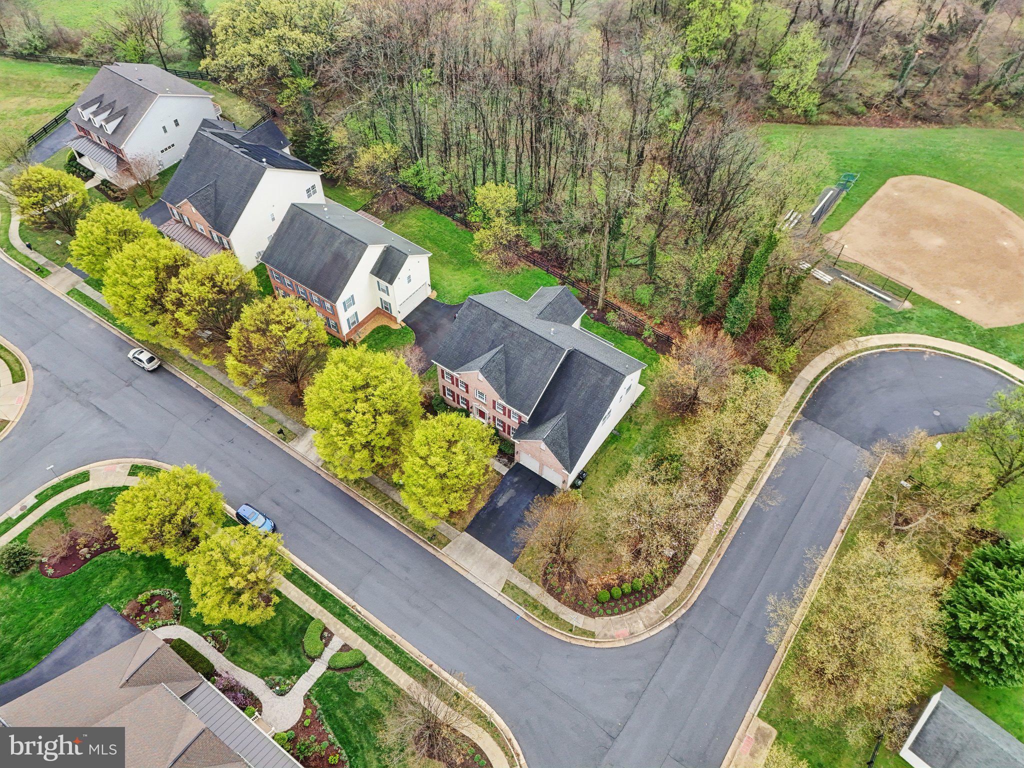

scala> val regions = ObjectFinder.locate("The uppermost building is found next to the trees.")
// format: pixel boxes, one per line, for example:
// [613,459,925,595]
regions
[64,59,242,191]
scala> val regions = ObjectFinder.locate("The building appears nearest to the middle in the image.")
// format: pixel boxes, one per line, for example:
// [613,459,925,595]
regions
[430,285,648,493]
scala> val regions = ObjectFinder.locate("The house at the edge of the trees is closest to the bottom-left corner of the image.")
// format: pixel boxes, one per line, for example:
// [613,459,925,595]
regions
[0,627,306,768]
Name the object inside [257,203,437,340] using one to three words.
house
